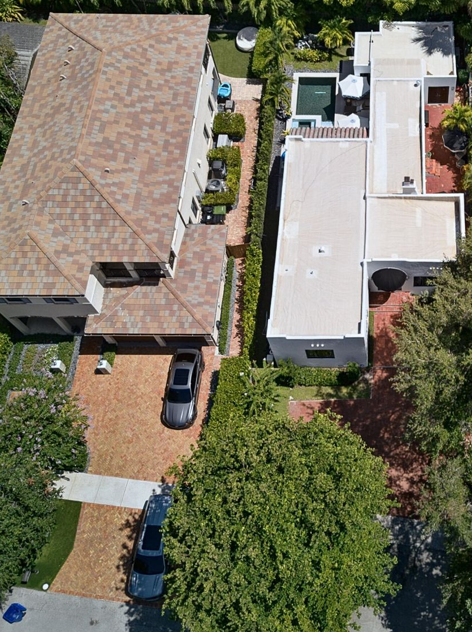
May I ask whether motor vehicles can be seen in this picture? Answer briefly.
Yes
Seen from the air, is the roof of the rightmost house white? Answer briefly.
Yes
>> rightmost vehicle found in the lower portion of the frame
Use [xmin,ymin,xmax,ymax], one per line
[159,351,206,431]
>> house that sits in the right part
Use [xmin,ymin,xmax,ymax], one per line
[267,25,467,366]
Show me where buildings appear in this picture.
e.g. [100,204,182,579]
[0,12,233,346]
[267,25,467,366]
